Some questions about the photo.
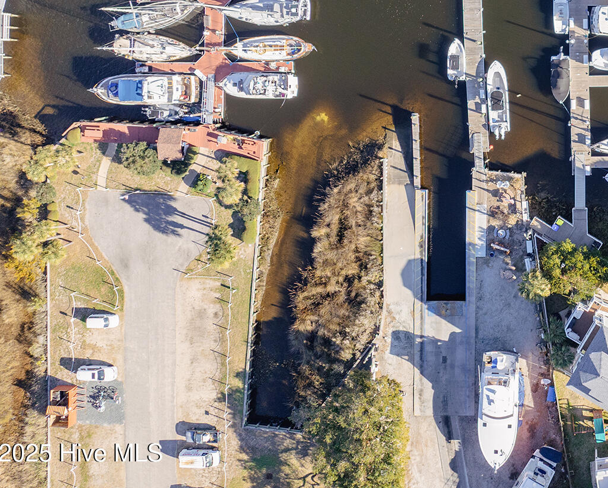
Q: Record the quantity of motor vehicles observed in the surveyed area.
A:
4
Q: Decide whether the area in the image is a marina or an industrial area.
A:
marina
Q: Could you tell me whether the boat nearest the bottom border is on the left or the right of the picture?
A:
right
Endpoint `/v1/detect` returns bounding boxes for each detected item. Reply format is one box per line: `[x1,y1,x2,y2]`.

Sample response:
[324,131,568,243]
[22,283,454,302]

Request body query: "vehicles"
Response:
[185,428,221,449]
[82,312,119,332]
[73,364,118,385]
[173,449,221,473]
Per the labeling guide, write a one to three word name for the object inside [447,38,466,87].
boat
